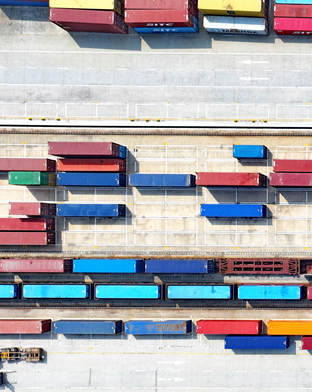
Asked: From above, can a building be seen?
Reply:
No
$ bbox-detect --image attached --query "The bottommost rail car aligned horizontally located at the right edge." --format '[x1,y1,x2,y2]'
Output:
[237,284,308,299]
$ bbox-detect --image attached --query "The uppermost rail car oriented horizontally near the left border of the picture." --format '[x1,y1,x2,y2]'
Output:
[5,258,74,273]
